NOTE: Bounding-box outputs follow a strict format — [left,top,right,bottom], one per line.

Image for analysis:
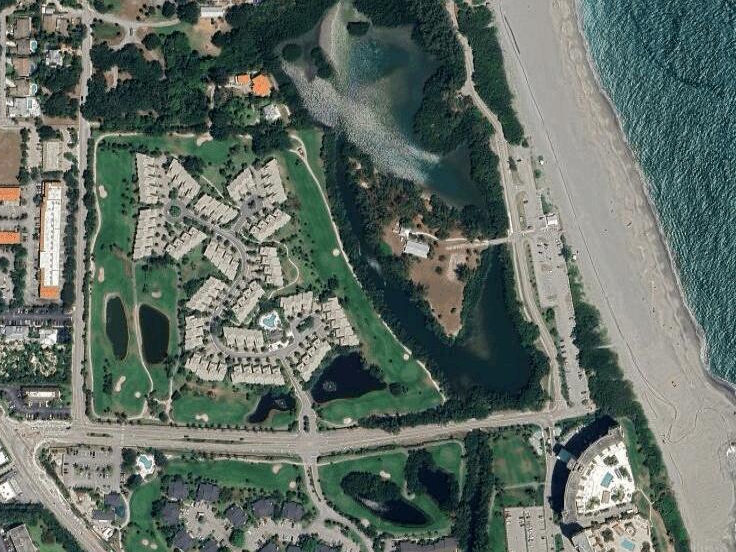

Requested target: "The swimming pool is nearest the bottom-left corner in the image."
[138,454,155,478]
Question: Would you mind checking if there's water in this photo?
Yes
